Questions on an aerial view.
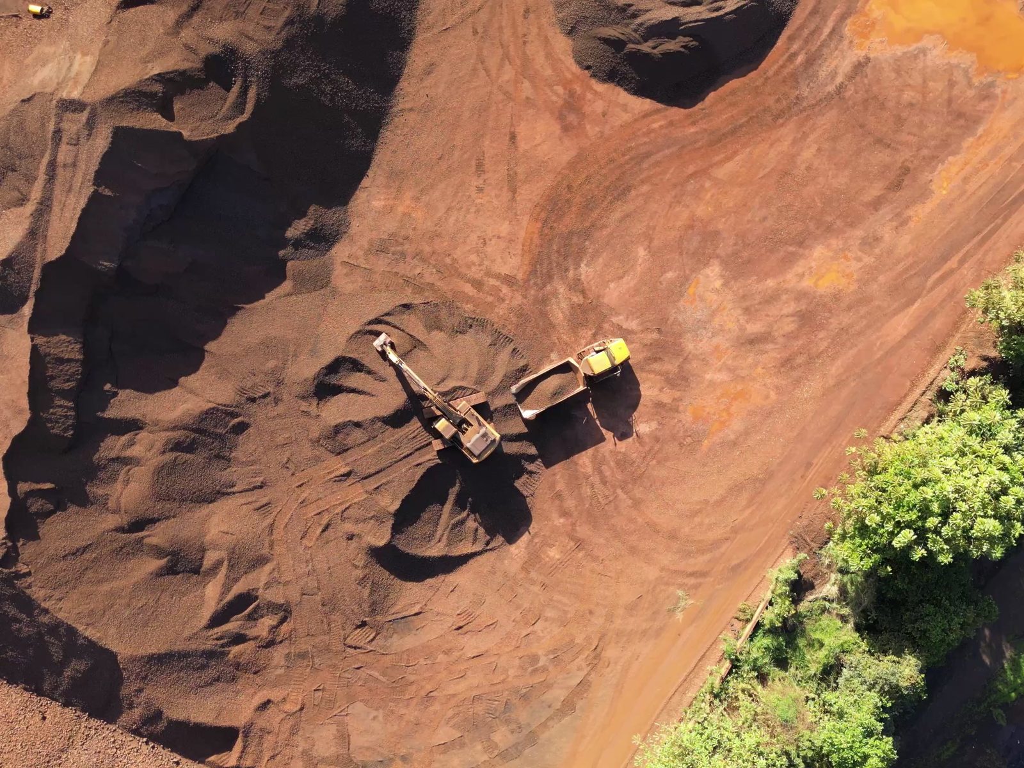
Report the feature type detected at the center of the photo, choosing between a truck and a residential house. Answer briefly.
truck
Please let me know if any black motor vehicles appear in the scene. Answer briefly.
No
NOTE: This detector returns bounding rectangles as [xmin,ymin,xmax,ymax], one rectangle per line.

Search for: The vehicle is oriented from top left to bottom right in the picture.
[371,333,497,459]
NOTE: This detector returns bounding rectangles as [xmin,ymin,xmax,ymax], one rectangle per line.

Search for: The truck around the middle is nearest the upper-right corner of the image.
[509,335,635,420]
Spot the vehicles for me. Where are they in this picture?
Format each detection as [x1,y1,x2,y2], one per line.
[509,335,635,420]
[371,333,497,459]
